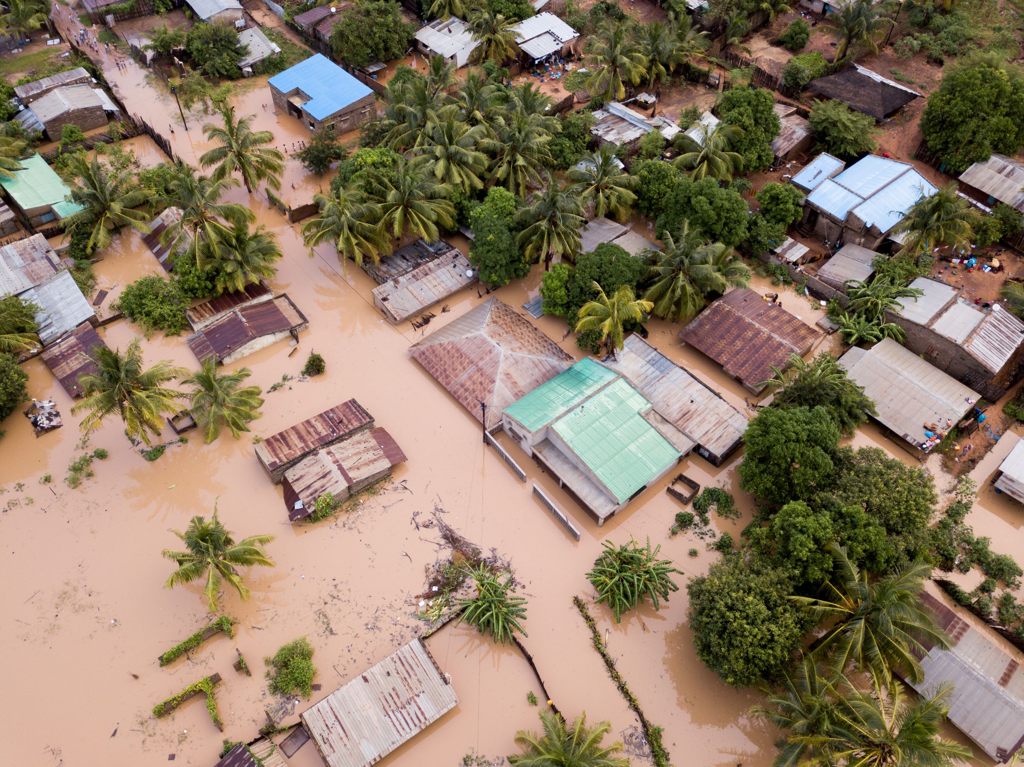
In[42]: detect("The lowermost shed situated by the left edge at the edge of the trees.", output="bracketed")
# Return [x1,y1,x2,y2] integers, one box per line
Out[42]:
[23,398,65,440]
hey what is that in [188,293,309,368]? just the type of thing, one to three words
house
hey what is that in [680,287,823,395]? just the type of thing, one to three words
house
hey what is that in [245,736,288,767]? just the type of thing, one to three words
shed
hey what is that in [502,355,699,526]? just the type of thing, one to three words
building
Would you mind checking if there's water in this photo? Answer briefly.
Yes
